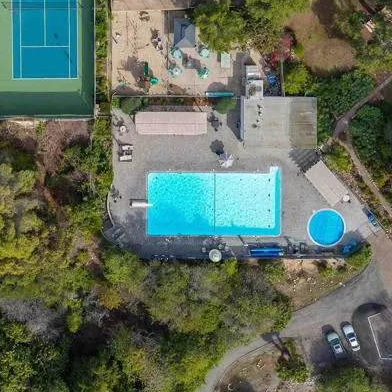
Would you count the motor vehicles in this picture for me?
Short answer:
2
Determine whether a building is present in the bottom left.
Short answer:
No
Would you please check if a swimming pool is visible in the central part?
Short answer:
Yes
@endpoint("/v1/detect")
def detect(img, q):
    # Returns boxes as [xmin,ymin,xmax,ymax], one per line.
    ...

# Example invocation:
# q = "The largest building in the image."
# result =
[239,66,317,151]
